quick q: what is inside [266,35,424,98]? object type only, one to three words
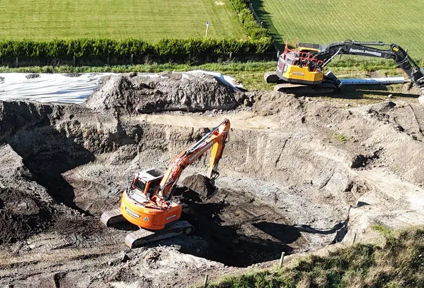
work vehicle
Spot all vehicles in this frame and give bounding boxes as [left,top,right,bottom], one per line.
[266,35,424,98]
[101,112,236,253]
